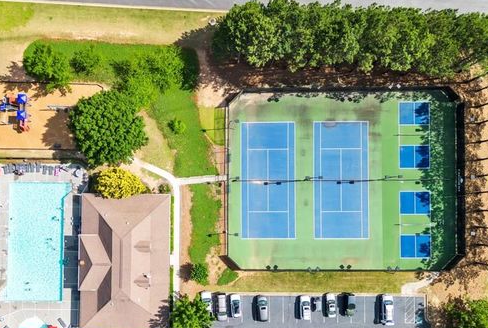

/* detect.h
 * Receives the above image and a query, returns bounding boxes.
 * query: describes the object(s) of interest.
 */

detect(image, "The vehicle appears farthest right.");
[381,296,394,324]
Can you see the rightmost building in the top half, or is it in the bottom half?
bottom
